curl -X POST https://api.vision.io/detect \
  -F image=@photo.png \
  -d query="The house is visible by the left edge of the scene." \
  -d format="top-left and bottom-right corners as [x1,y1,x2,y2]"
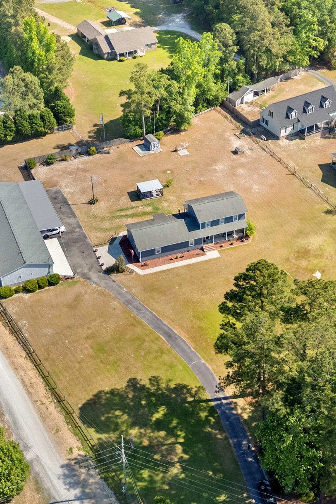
[0,180,65,285]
